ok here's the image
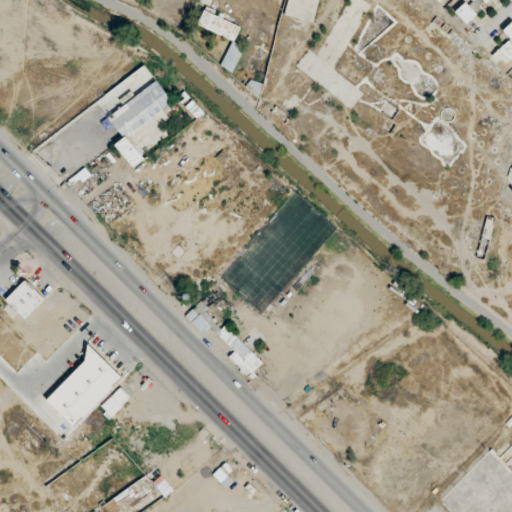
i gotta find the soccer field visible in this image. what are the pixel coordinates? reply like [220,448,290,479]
[224,193,336,311]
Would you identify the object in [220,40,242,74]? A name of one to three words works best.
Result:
barn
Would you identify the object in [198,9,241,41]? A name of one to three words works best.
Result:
house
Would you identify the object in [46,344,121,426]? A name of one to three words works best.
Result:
building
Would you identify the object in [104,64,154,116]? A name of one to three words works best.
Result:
building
